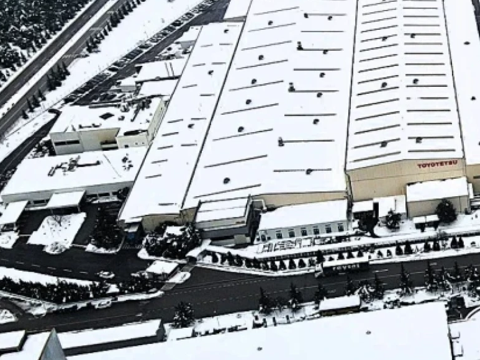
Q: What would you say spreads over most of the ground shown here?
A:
buildings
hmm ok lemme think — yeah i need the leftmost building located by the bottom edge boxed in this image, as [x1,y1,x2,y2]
[0,329,27,360]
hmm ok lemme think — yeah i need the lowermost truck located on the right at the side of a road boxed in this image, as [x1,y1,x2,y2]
[316,256,370,280]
